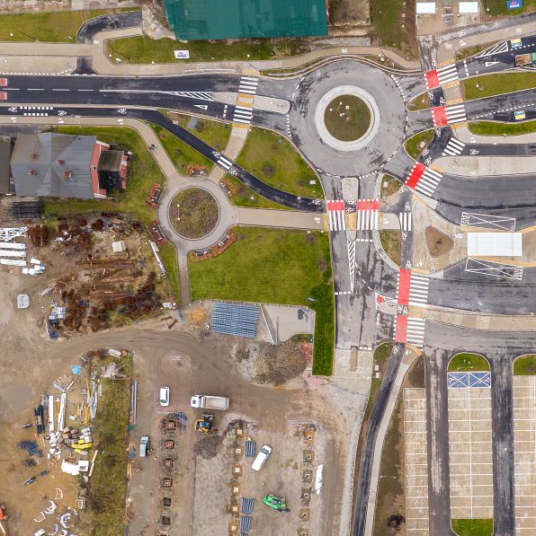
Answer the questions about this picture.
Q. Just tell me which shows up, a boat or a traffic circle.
traffic circle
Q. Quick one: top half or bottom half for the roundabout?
top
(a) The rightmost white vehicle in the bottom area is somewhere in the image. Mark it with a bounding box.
[252,446,271,471]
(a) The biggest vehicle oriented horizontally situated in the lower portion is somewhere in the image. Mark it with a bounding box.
[188,395,230,410]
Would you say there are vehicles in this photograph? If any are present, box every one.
[188,395,230,410]
[159,386,171,405]
[513,51,536,66]
[194,410,212,441]
[138,435,151,458]
[252,446,271,471]
[262,496,292,514]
